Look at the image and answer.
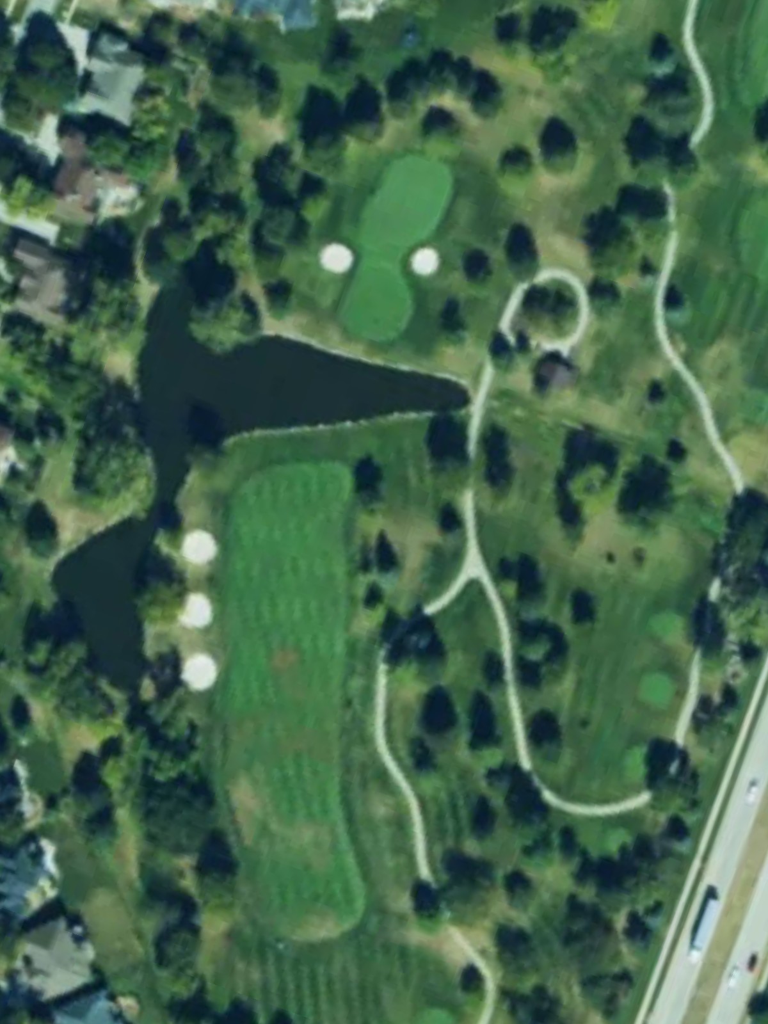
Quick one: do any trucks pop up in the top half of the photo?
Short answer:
No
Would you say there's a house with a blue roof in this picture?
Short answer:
Yes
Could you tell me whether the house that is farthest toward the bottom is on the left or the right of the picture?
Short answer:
left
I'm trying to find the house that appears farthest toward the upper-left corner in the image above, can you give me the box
[75,28,147,122]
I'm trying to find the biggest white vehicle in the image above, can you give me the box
[690,895,720,960]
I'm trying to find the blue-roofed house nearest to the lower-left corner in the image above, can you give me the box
[46,984,122,1024]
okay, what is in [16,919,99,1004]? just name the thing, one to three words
house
